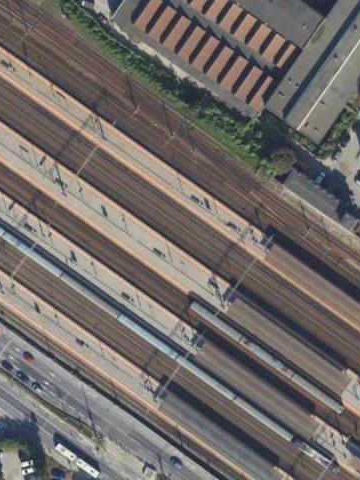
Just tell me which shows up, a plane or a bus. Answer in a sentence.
There is a bus in the scene.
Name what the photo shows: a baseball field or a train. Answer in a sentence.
Looking from above, you can make out a train.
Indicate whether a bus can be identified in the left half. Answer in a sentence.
Yes, a bus appears in the left half.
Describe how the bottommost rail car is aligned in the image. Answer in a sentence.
The bottommost rail car is laid out at an angle.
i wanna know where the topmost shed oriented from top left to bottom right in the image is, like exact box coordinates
[283,171,339,221]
